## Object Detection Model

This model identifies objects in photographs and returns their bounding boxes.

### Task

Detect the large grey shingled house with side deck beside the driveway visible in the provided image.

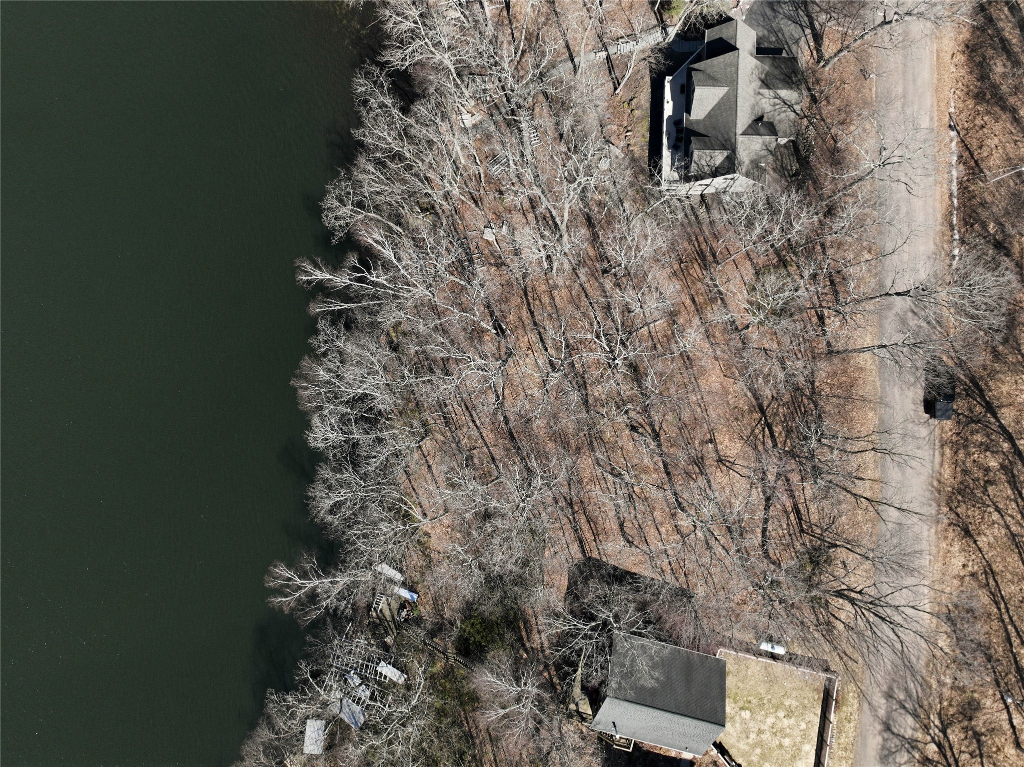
[677,20,806,193]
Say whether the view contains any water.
Yes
